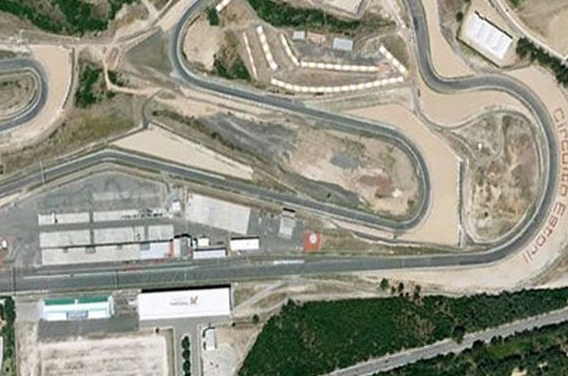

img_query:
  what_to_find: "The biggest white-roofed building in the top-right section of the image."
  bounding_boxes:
[464,15,513,58]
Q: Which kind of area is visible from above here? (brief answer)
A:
sports ground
